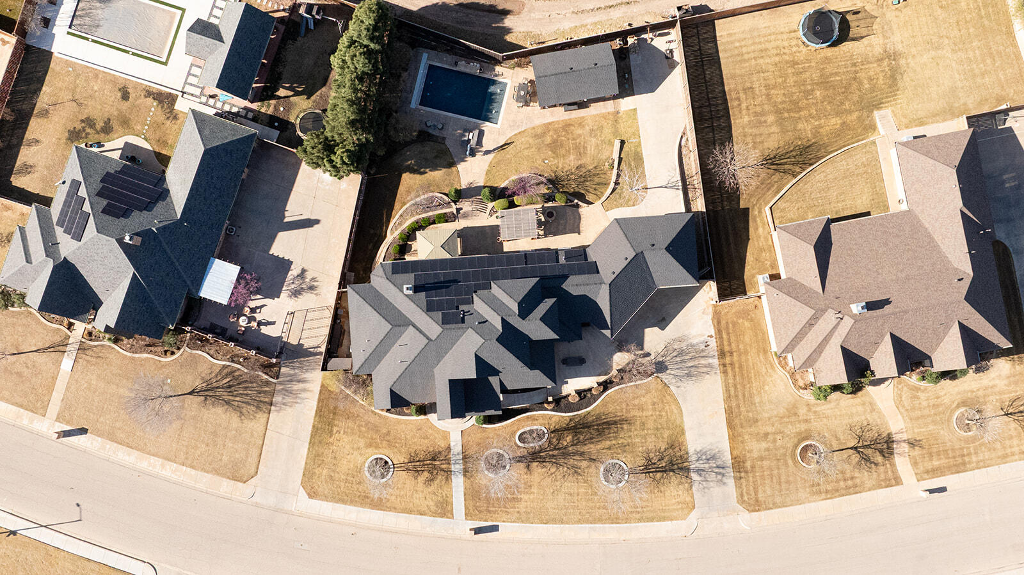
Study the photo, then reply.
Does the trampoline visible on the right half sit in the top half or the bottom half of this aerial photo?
top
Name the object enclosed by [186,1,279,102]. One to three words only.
building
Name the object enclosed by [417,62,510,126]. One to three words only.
swimming pool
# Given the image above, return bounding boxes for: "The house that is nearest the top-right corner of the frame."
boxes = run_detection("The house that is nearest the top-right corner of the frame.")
[757,127,1012,387]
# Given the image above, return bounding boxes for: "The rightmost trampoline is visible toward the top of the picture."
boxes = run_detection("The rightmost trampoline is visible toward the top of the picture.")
[796,0,849,49]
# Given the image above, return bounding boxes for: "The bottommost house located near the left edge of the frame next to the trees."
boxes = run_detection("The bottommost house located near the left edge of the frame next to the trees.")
[0,107,258,339]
